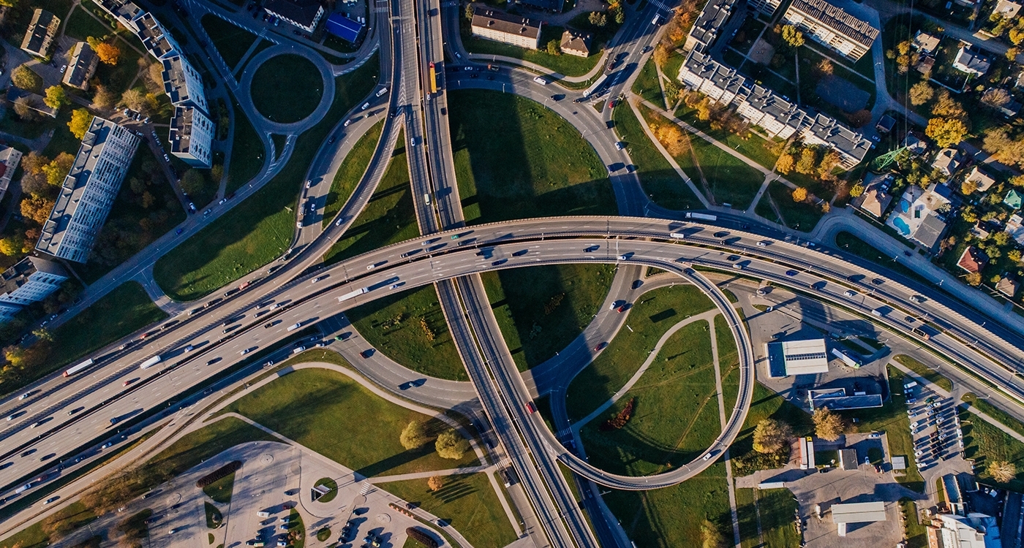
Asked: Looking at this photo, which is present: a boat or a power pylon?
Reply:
power pylon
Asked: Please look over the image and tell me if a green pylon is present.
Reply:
Yes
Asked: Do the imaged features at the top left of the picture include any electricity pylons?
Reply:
No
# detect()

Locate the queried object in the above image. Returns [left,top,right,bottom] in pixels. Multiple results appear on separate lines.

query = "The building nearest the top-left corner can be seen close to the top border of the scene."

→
[19,8,63,58]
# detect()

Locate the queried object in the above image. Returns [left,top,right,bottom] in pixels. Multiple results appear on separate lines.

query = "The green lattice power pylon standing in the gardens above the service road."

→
[864,146,910,174]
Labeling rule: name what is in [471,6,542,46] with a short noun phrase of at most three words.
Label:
building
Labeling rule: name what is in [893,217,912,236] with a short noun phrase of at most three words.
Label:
swimming pool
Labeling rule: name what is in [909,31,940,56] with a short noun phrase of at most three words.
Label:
house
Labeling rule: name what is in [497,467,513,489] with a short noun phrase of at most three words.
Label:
vehicle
